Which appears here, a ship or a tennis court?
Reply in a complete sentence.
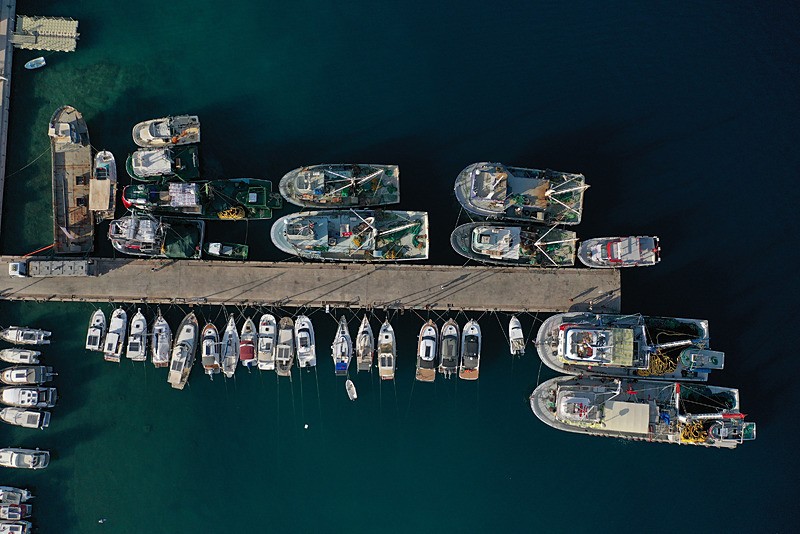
The image shows a ship.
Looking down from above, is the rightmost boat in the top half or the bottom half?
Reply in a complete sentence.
The bottom half of the photo is where the rightmost boat is.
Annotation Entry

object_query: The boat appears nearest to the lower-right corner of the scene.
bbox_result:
[705,418,763,445]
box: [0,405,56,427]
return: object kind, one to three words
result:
boat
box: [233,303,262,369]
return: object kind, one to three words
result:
boat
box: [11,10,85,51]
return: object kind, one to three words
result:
pier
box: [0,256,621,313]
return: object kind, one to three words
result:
pier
